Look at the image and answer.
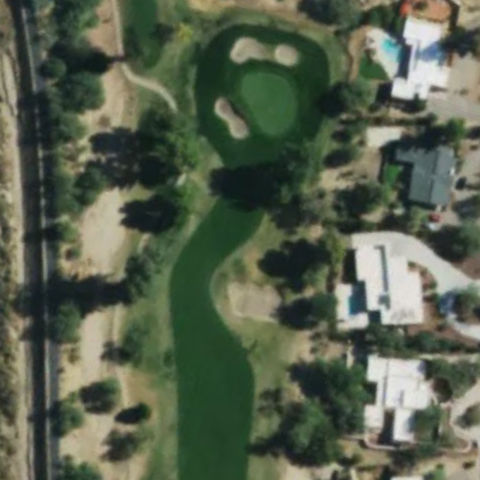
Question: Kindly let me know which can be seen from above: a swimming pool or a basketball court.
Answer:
swimming pool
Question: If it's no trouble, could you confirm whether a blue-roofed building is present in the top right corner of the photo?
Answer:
No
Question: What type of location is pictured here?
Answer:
golf course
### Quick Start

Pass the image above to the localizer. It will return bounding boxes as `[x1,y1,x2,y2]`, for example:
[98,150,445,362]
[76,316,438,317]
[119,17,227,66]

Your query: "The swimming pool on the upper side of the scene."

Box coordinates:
[376,35,404,65]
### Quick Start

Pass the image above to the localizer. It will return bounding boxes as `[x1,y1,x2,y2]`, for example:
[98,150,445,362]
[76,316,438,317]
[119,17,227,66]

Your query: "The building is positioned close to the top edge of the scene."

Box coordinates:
[391,17,452,100]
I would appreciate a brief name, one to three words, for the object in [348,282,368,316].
swimming pool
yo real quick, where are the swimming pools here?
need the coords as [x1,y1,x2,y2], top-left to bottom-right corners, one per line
[348,282,368,316]
[376,35,404,65]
